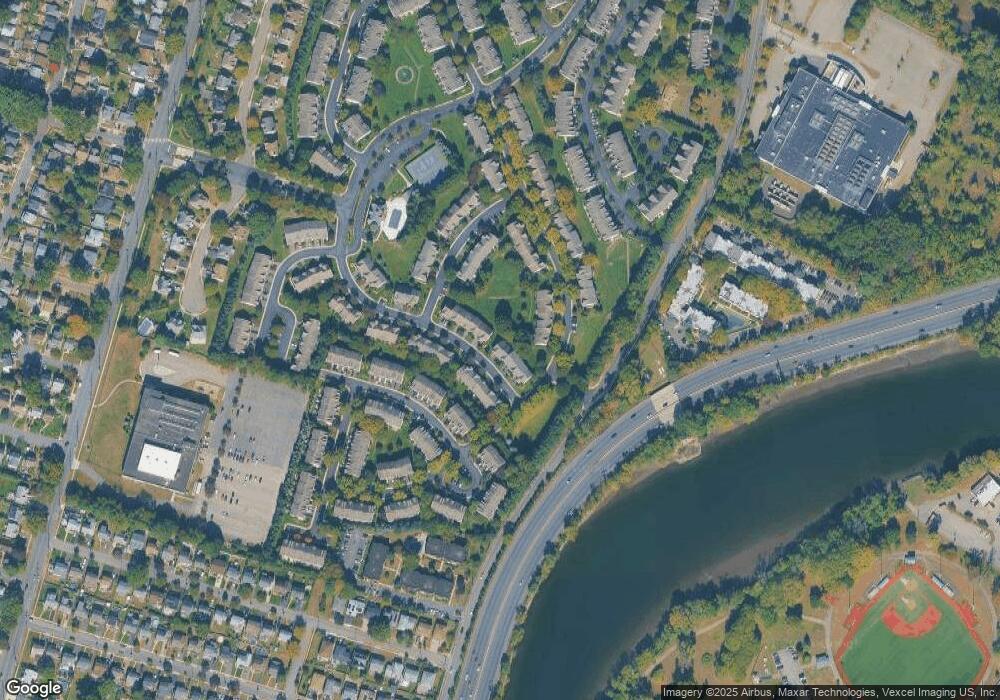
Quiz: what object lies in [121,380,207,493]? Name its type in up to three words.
building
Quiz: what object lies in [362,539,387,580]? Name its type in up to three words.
building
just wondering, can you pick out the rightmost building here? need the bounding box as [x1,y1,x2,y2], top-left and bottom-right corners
[972,474,1000,506]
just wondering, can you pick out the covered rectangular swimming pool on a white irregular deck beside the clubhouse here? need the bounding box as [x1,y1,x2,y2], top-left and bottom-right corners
[383,198,407,240]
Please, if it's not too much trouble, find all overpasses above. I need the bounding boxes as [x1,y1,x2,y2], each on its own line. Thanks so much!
[653,381,682,426]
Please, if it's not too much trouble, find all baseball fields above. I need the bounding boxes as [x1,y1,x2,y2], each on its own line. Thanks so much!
[835,564,991,700]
